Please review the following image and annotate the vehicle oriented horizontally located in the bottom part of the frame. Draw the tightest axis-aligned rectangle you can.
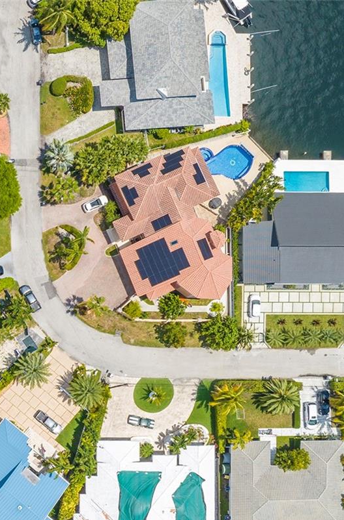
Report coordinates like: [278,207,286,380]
[127,416,156,429]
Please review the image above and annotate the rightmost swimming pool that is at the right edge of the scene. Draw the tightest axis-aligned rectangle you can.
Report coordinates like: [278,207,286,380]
[283,171,330,191]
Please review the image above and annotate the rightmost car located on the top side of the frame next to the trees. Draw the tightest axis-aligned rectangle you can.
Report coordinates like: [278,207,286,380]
[81,196,108,213]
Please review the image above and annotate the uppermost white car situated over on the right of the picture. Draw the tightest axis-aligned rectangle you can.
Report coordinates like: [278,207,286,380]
[247,292,262,319]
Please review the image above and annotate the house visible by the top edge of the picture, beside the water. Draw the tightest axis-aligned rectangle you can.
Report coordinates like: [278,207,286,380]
[98,0,215,134]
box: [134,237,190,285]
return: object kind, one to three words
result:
solar panel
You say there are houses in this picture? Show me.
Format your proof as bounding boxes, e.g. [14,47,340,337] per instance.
[0,418,68,520]
[98,0,215,134]
[72,440,215,520]
[259,192,344,284]
[226,441,344,520]
[109,145,230,300]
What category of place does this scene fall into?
residential area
